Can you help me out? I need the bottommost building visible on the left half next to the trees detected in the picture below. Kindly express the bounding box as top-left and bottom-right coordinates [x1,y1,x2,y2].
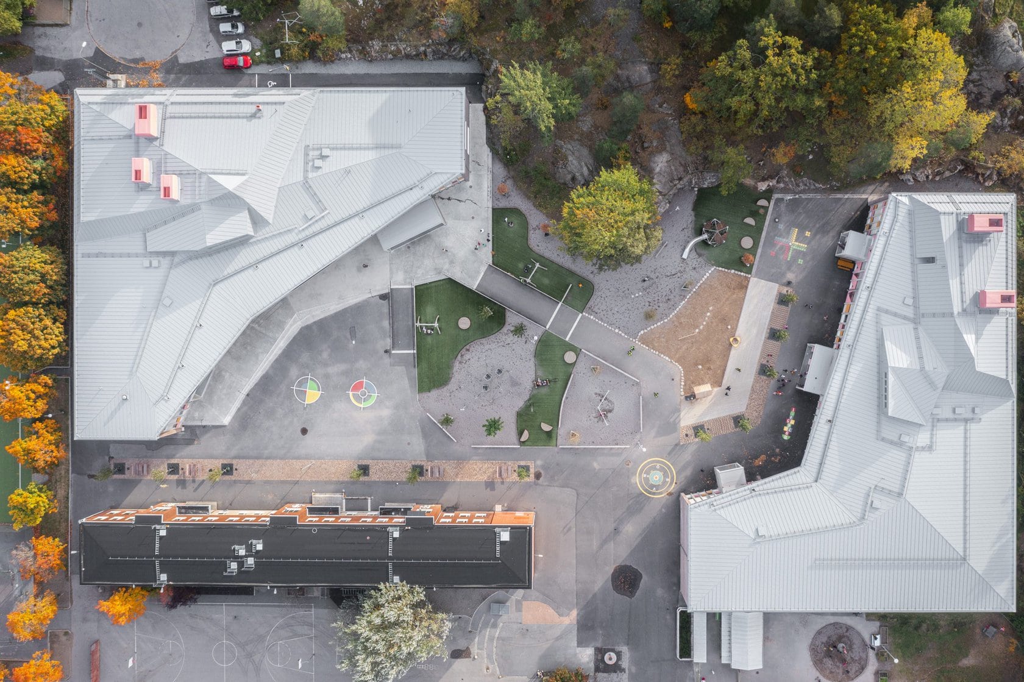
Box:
[79,492,535,589]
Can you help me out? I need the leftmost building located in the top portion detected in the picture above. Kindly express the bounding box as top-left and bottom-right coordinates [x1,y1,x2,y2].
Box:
[74,88,469,439]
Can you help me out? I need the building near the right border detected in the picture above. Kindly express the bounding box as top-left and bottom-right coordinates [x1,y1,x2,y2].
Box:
[679,193,1016,618]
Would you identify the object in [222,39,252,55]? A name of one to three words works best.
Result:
car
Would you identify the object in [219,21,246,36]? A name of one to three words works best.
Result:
car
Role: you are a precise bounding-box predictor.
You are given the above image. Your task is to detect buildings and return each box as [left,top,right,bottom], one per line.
[79,492,535,589]
[74,88,469,439]
[679,193,1016,618]
[692,384,714,402]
